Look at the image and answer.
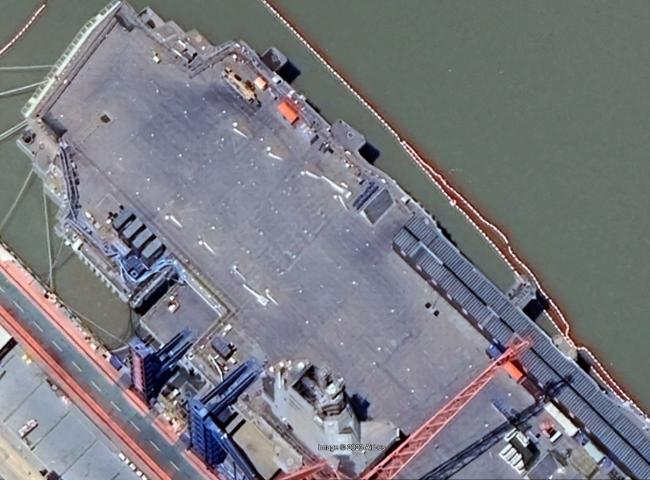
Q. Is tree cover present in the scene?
No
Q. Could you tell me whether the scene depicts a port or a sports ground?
port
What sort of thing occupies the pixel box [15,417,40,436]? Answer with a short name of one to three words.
vehicle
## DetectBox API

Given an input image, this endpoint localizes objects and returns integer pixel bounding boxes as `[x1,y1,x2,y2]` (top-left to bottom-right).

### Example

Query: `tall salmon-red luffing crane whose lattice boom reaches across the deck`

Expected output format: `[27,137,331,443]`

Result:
[271,337,534,480]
